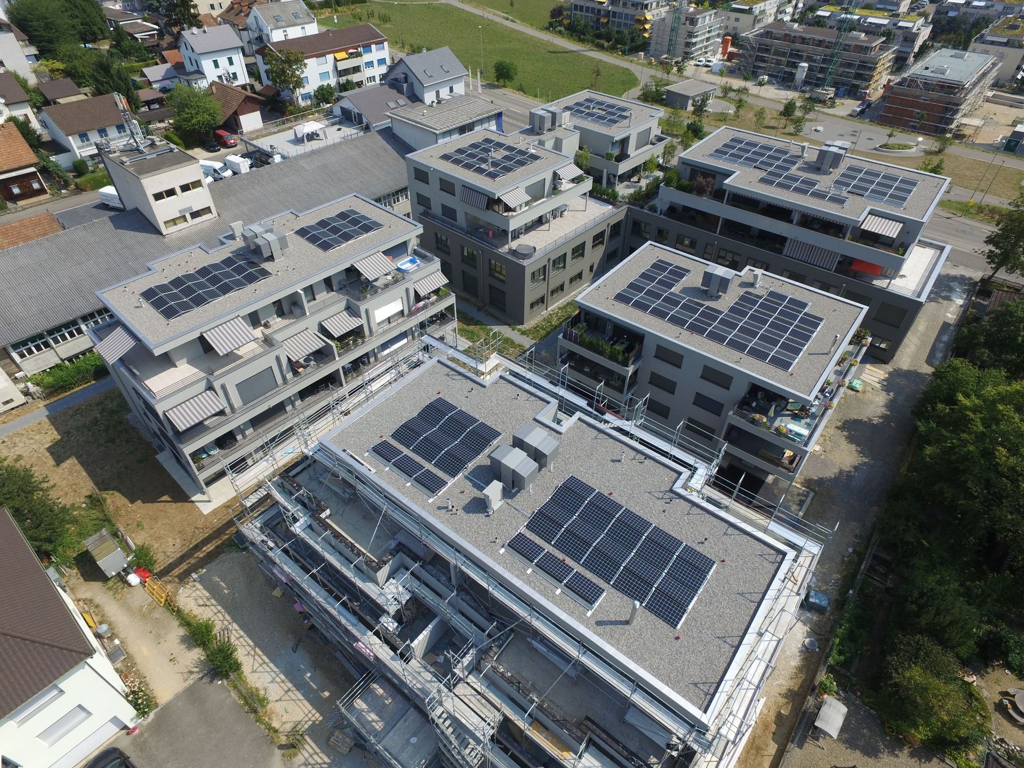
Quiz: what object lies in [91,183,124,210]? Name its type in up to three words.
vehicle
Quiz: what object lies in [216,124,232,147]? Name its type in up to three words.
vehicle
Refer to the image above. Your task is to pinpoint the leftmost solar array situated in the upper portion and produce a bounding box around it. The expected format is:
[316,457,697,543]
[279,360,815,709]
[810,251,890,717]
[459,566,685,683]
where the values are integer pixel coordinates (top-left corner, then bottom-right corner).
[138,247,283,321]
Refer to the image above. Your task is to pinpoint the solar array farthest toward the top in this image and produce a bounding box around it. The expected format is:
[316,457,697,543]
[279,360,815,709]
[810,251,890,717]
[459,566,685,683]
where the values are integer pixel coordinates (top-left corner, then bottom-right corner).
[559,96,636,127]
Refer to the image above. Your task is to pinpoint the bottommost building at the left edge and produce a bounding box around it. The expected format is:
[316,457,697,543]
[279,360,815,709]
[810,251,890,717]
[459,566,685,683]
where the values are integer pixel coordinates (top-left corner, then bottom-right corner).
[0,495,138,768]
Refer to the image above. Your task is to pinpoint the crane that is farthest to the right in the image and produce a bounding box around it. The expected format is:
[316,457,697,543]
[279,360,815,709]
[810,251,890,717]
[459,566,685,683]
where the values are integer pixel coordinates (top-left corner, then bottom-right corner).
[813,0,868,102]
